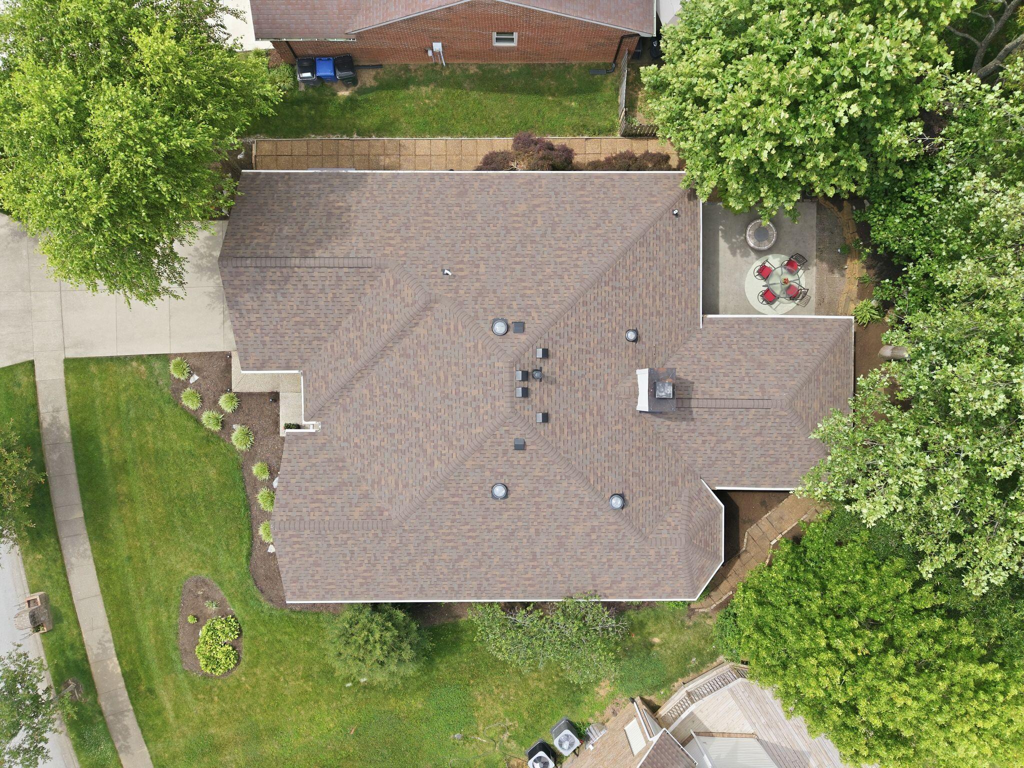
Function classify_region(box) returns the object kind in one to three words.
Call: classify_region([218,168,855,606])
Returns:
house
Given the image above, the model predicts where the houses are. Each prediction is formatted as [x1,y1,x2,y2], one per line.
[563,690,779,768]
[247,0,654,73]
[218,168,855,606]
